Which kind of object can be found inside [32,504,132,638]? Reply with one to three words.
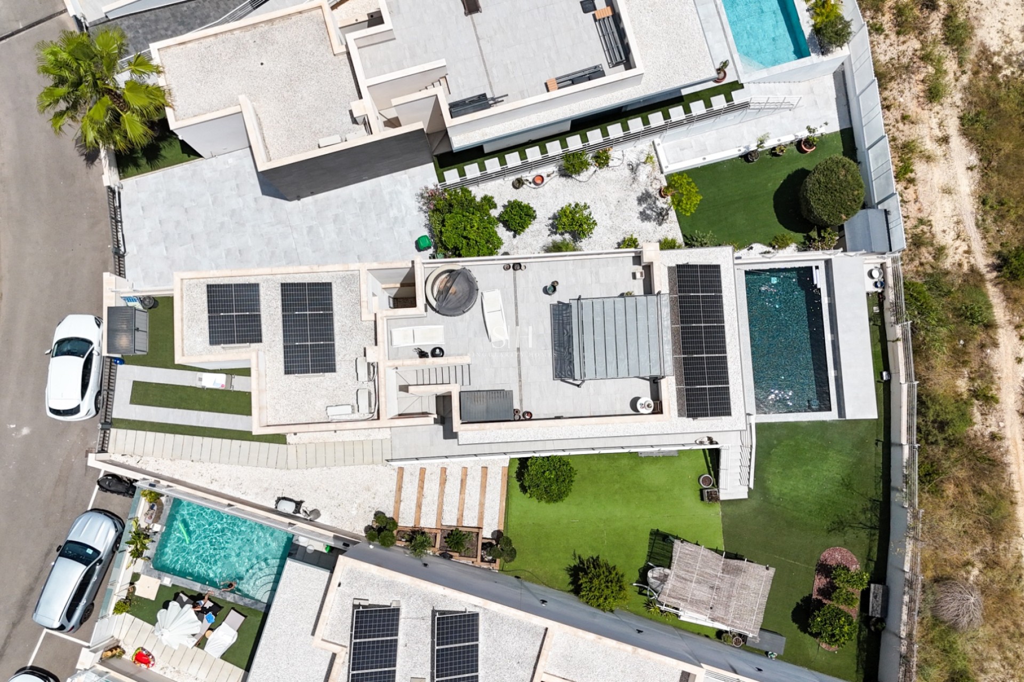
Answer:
car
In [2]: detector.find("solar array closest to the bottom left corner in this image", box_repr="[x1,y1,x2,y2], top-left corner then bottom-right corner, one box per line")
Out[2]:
[349,597,401,682]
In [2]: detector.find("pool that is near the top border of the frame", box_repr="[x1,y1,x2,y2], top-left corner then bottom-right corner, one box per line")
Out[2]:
[720,0,851,85]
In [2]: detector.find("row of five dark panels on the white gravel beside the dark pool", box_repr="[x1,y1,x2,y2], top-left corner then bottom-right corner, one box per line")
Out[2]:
[673,257,731,425]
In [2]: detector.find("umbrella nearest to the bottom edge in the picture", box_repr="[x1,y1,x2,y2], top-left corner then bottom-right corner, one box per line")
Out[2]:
[151,599,206,652]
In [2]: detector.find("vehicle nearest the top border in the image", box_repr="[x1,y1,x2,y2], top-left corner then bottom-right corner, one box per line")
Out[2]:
[43,313,107,423]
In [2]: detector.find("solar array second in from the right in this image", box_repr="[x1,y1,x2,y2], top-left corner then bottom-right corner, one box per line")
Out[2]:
[435,609,479,682]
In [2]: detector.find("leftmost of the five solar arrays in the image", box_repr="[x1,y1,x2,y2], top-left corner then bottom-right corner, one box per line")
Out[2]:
[207,280,262,353]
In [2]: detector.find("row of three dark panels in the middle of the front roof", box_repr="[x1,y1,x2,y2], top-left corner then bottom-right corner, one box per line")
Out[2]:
[281,279,336,382]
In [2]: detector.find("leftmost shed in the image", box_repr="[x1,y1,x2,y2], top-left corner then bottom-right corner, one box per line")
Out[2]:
[107,307,152,356]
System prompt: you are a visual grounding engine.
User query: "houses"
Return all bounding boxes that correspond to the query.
[174,242,747,445]
[250,528,835,682]
[149,0,718,200]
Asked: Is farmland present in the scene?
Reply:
No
